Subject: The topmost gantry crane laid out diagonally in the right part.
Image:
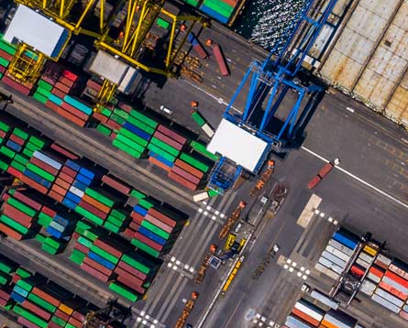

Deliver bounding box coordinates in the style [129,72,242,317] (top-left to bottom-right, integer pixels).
[202,0,341,201]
